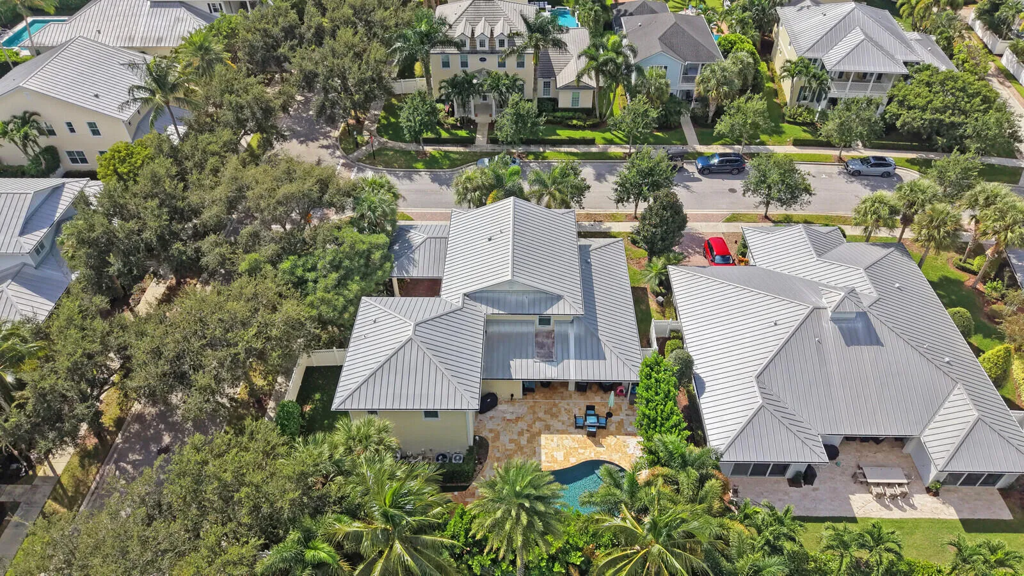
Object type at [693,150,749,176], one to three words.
car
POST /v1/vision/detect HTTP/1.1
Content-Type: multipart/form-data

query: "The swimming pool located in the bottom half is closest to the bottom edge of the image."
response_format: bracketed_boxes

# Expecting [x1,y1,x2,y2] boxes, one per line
[540,453,638,510]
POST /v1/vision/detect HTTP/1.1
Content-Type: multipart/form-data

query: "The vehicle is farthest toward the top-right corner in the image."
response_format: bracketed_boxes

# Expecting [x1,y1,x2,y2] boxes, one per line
[841,154,900,180]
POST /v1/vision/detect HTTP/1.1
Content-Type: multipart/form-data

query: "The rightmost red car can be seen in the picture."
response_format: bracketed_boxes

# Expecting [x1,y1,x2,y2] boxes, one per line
[700,232,736,266]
